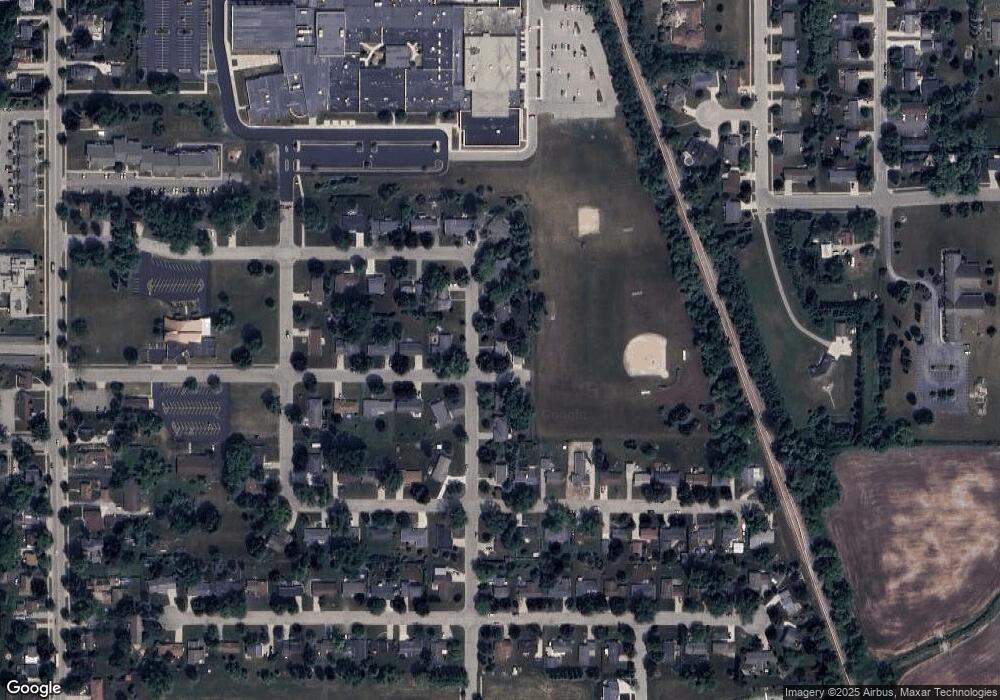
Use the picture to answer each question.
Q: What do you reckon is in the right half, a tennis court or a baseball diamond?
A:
baseball diamond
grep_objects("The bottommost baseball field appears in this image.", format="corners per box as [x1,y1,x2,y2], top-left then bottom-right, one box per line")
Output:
[624,333,679,387]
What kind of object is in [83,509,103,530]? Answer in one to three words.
house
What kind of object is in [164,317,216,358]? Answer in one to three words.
building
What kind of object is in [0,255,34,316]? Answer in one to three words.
building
